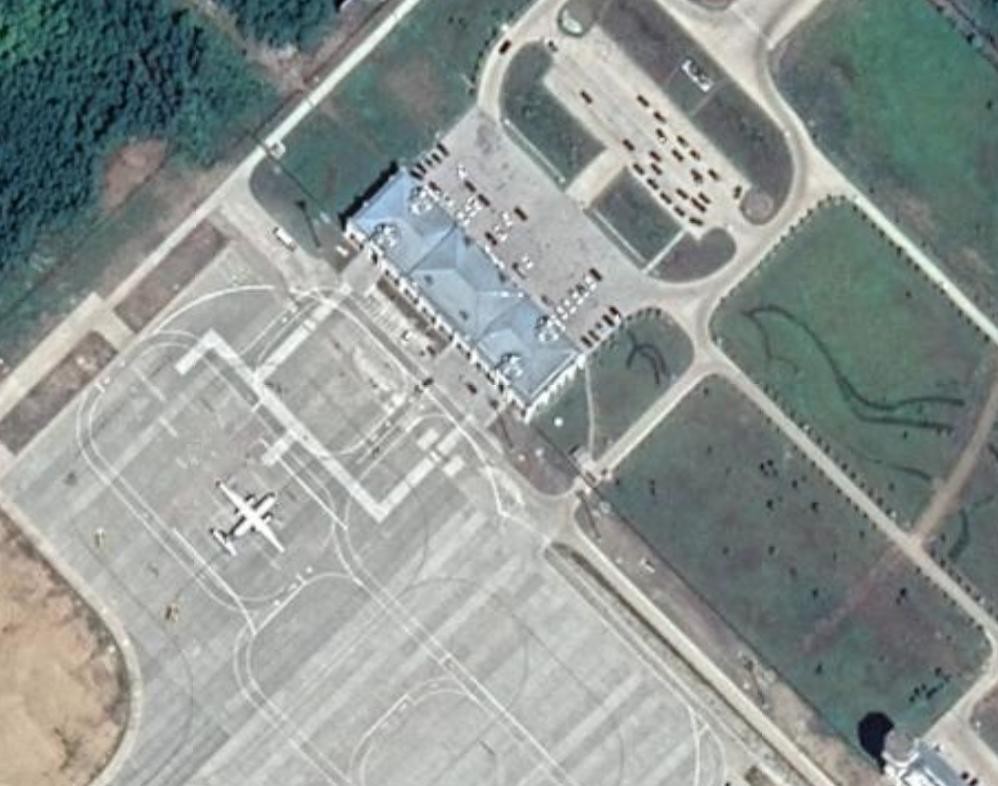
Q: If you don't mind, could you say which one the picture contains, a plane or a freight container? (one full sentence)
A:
There is a plane in the scene.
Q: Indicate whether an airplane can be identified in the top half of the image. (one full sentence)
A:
No, no airplane can be made out in the top half of the image.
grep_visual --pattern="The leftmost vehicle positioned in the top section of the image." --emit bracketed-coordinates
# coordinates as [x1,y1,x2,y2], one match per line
[275,226,294,247]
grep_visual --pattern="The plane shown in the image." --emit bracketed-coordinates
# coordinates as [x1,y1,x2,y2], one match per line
[213,482,288,553]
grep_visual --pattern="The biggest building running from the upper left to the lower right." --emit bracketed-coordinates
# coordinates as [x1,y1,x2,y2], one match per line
[346,169,587,420]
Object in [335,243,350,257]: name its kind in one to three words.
vehicle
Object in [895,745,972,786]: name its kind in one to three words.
building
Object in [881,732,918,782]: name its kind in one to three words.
building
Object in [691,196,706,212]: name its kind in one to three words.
vehicle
